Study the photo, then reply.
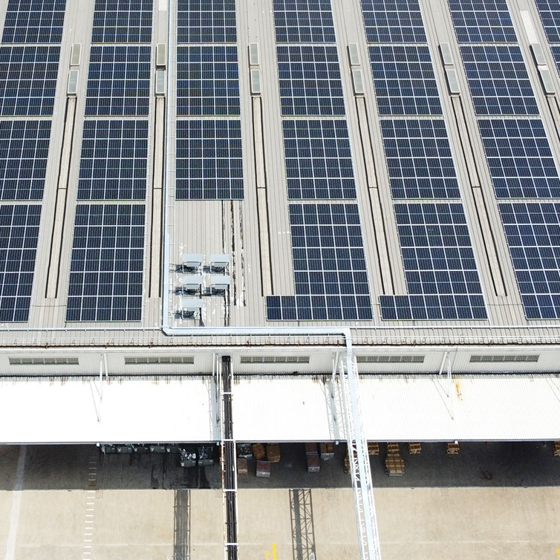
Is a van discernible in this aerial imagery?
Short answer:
No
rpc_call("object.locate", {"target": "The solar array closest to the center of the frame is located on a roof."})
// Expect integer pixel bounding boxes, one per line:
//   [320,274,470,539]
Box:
[264,204,373,319]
